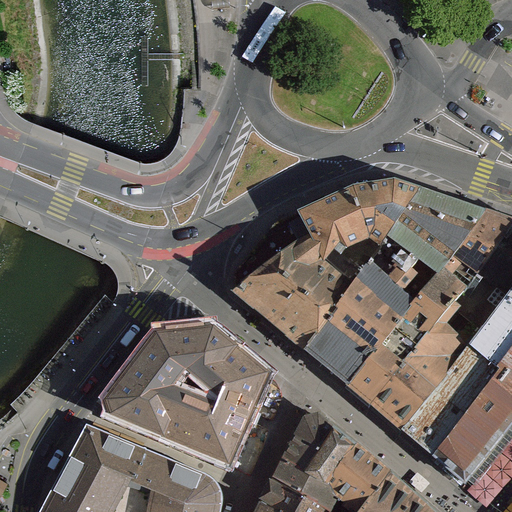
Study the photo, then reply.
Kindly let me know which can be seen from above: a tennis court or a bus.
bus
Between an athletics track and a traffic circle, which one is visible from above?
traffic circle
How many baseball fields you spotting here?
zero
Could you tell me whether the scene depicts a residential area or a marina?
residential area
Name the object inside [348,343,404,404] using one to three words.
house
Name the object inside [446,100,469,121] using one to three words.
car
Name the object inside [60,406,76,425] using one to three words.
car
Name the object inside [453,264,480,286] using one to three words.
building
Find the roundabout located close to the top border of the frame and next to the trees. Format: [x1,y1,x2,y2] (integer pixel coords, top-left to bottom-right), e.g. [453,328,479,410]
[270,2,394,132]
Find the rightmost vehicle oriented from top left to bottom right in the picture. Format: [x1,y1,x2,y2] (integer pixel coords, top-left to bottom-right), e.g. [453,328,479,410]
[480,124,505,142]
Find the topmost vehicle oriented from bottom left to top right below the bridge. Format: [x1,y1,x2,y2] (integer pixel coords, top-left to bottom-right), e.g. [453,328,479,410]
[119,324,140,348]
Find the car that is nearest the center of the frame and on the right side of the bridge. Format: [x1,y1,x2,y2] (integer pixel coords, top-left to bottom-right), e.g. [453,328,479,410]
[172,227,198,240]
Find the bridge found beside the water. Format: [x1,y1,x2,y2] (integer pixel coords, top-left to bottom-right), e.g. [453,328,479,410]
[0,116,150,264]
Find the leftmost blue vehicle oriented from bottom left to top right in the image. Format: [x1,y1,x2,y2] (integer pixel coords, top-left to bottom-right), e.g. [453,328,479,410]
[45,448,65,472]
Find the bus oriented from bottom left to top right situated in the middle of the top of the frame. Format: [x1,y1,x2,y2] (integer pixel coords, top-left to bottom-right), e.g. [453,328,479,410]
[242,3,287,62]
